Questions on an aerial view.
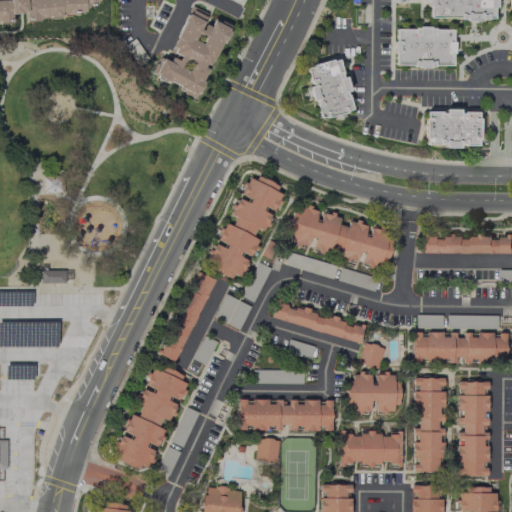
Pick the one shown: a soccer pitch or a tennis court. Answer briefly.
tennis court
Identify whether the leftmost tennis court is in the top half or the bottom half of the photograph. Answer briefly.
bottom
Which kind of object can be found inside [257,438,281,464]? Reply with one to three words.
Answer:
building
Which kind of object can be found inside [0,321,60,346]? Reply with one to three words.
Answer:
solar panel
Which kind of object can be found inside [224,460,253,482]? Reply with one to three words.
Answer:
swimming pool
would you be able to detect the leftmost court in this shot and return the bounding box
[281,436,316,511]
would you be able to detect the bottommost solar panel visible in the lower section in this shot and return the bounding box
[8,365,35,379]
